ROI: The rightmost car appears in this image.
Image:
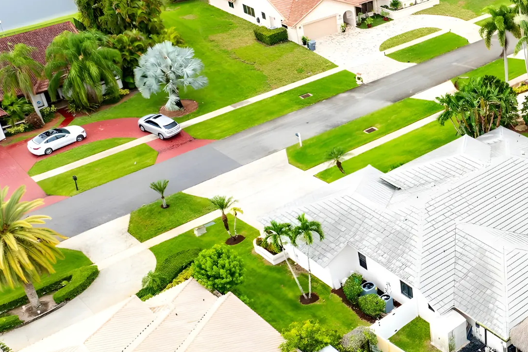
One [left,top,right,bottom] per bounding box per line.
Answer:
[137,112,180,137]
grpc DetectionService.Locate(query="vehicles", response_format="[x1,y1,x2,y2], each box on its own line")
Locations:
[137,112,180,137]
[24,128,84,153]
